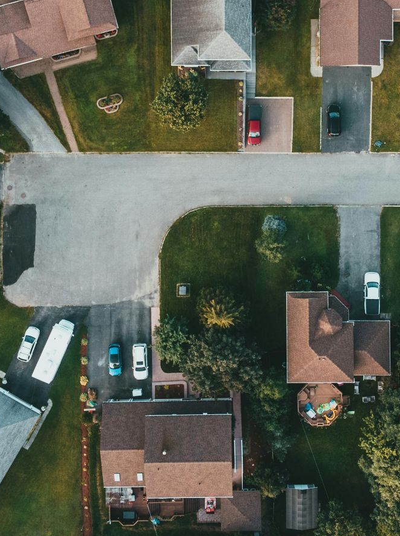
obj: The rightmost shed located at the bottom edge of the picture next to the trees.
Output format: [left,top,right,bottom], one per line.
[286,479,319,530]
